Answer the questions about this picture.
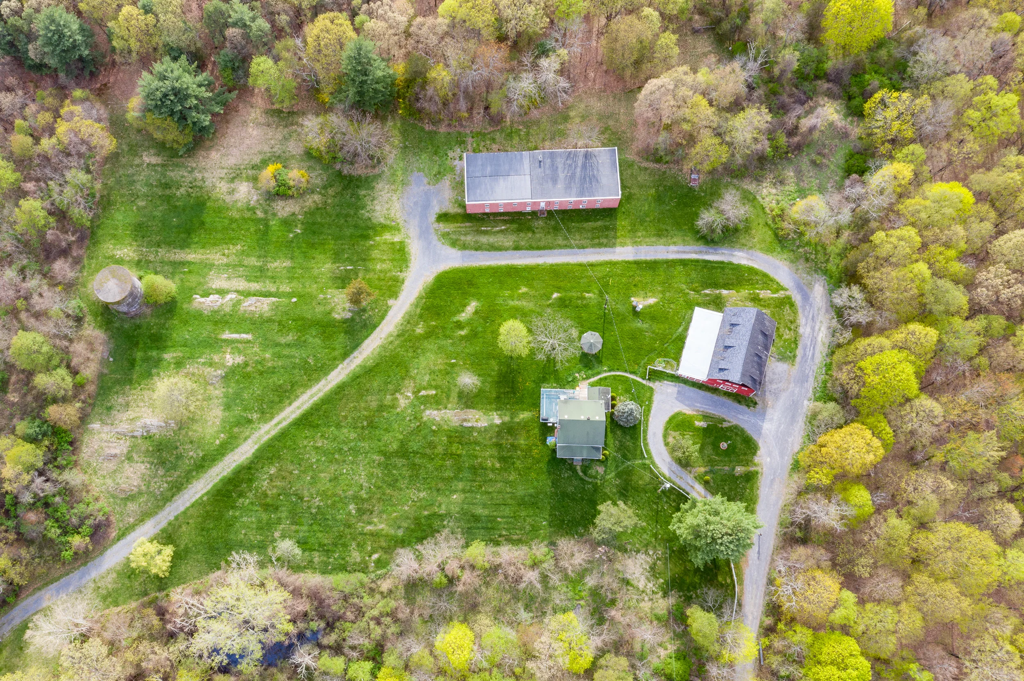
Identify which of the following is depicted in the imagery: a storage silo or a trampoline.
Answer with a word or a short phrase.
storage silo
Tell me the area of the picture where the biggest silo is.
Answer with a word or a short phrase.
left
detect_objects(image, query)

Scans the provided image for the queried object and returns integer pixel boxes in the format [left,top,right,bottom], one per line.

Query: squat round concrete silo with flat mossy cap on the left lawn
[93,266,152,317]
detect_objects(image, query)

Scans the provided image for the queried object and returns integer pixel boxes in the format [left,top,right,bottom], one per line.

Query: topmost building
[463,145,622,213]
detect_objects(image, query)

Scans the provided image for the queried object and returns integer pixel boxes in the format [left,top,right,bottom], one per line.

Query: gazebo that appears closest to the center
[580,333,603,358]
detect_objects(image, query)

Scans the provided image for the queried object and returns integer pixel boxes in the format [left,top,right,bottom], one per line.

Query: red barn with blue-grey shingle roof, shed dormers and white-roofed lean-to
[678,306,776,398]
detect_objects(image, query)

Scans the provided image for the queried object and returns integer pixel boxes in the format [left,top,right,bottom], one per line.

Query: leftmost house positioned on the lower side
[554,385,612,466]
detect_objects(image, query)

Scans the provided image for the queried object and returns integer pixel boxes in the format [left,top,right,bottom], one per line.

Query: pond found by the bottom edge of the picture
[209,621,328,676]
